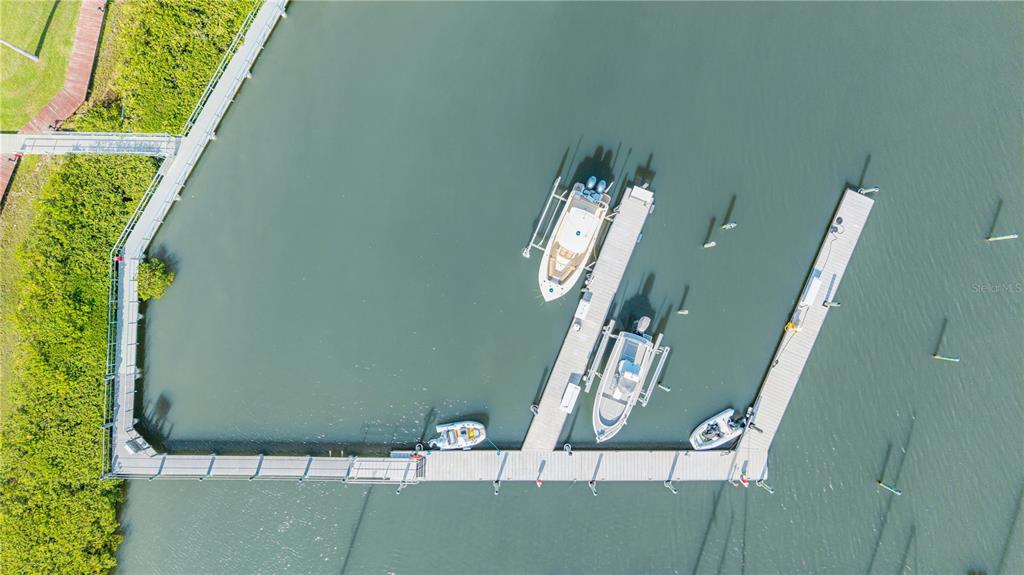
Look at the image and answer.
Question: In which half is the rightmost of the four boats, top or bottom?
bottom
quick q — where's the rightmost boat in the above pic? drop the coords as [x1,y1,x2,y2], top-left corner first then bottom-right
[690,407,746,445]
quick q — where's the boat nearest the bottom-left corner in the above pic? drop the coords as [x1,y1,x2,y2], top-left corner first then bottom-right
[419,422,488,449]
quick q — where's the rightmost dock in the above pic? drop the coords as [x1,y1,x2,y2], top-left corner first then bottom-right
[735,185,875,482]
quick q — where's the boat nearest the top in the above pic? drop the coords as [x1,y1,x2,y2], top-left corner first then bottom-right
[540,178,610,302]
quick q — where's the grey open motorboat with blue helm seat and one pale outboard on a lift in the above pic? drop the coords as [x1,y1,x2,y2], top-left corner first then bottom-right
[592,320,651,443]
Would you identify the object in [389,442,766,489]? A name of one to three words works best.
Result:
pier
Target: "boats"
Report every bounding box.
[540,178,610,302]
[690,407,746,445]
[419,422,488,449]
[592,320,651,443]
